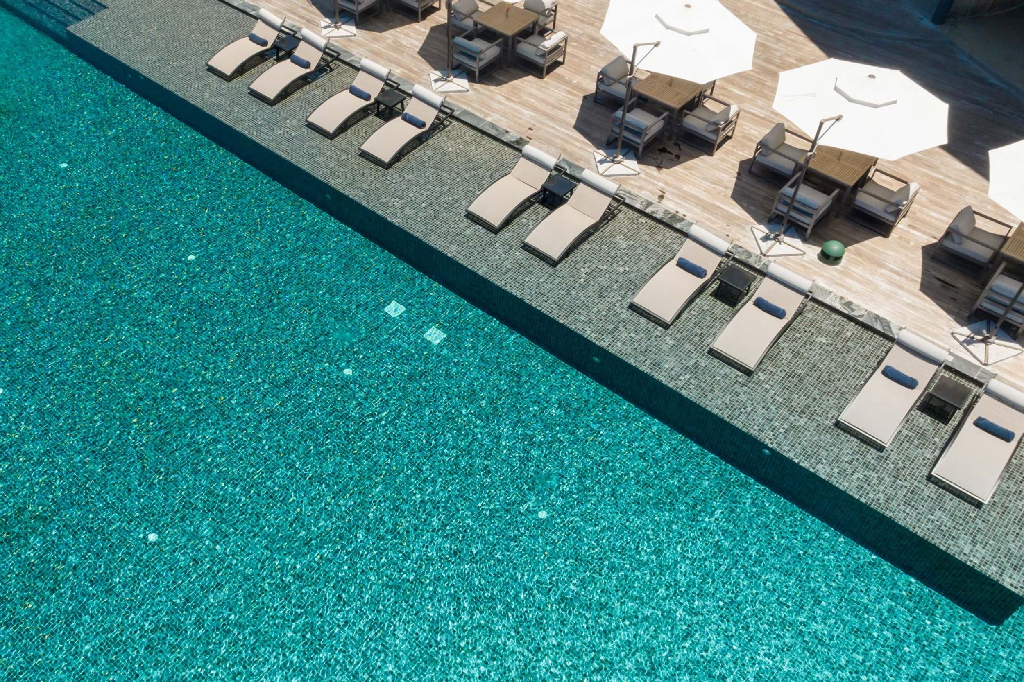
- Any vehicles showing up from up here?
No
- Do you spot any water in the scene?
Yes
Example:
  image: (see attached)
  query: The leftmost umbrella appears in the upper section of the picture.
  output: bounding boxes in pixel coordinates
[322,0,356,37]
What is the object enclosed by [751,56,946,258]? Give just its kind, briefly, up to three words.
umbrella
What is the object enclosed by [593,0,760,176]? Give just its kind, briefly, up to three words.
umbrella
